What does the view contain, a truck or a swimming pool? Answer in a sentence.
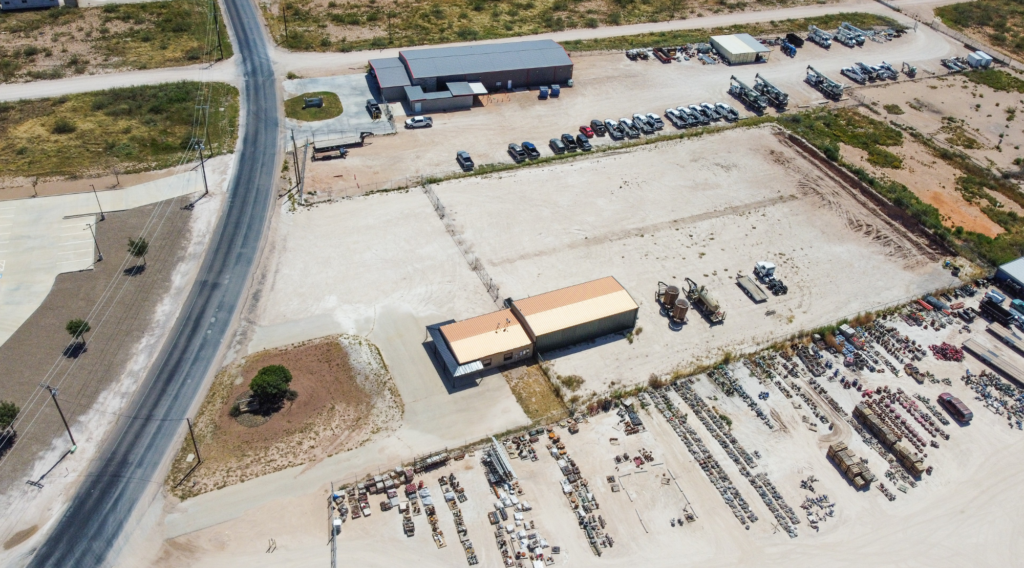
This aerial view contains a truck.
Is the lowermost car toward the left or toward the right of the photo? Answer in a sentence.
You can find the lowermost car on the right side of the picture.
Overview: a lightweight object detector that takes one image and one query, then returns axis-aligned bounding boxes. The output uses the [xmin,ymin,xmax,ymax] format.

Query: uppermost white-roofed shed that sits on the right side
[711,32,769,63]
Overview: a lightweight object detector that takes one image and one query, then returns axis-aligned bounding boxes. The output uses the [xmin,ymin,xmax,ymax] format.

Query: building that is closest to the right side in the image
[992,262,1024,299]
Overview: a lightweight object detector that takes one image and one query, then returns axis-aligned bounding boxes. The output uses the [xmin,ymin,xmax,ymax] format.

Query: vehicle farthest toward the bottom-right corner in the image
[938,395,973,425]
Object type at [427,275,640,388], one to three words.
building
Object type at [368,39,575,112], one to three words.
building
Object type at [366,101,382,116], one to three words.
vehicle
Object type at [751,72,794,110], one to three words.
truck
